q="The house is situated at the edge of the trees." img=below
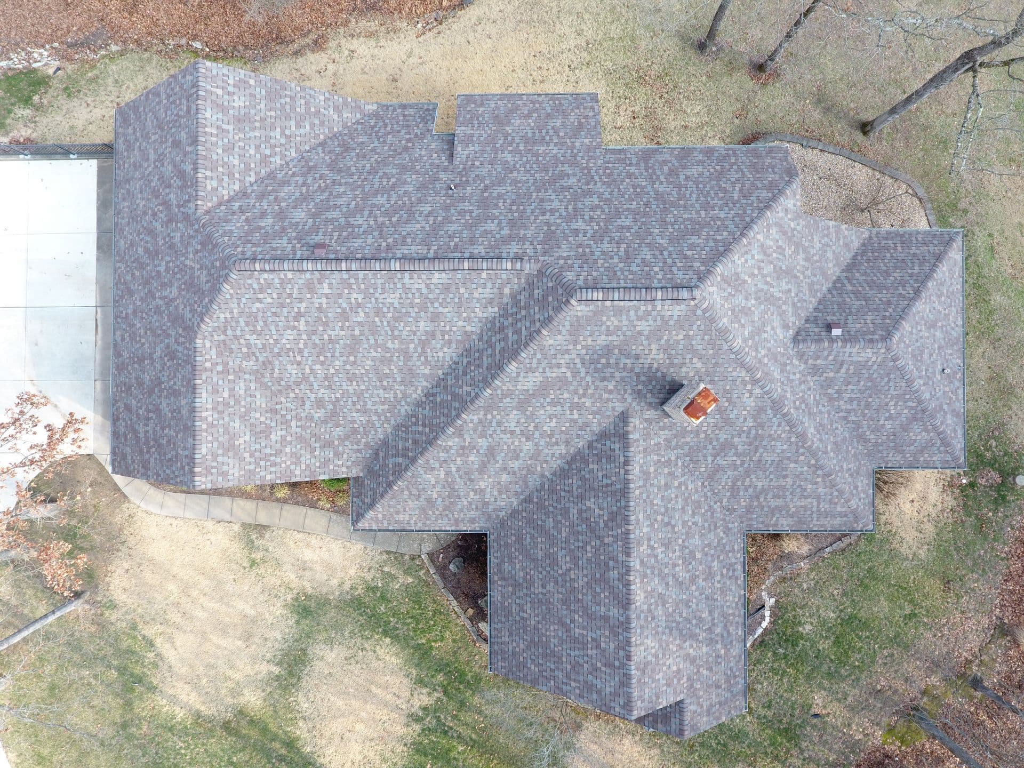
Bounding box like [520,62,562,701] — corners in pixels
[108,57,969,739]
